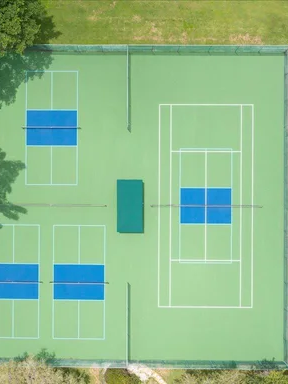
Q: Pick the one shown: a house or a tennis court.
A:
tennis court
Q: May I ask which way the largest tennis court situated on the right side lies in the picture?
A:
up and down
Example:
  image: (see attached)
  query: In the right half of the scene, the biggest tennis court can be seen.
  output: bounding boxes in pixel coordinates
[157,104,253,308]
